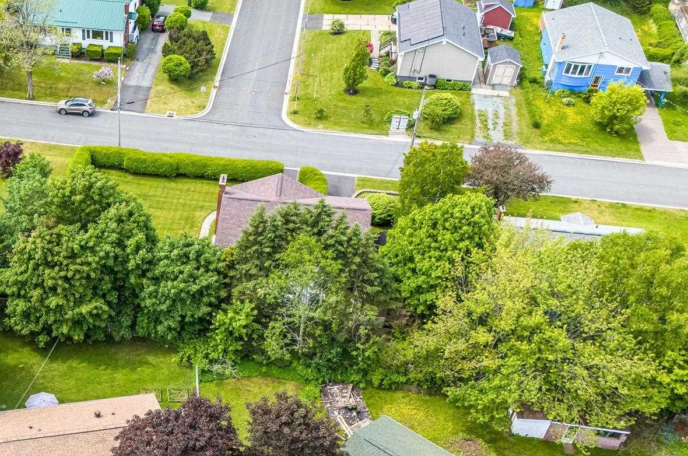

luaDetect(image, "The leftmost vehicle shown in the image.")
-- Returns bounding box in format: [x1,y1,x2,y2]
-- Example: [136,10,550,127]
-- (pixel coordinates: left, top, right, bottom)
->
[56,100,97,121]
